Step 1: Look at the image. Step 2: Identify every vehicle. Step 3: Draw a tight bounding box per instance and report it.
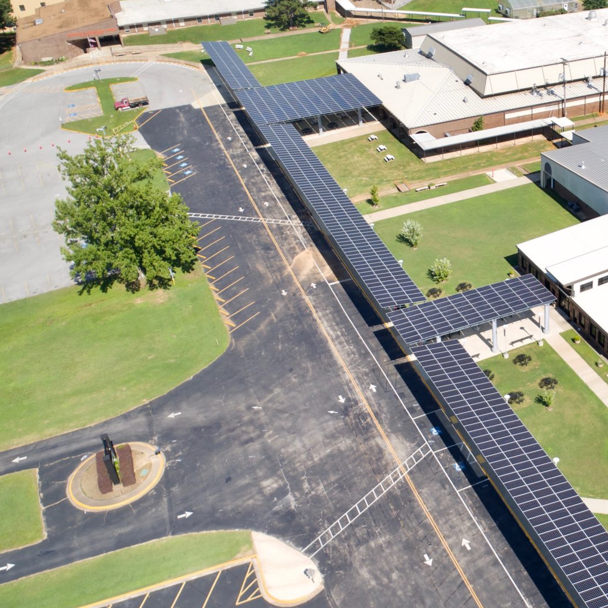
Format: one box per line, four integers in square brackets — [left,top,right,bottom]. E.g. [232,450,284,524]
[318,19,339,32]
[111,93,148,110]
